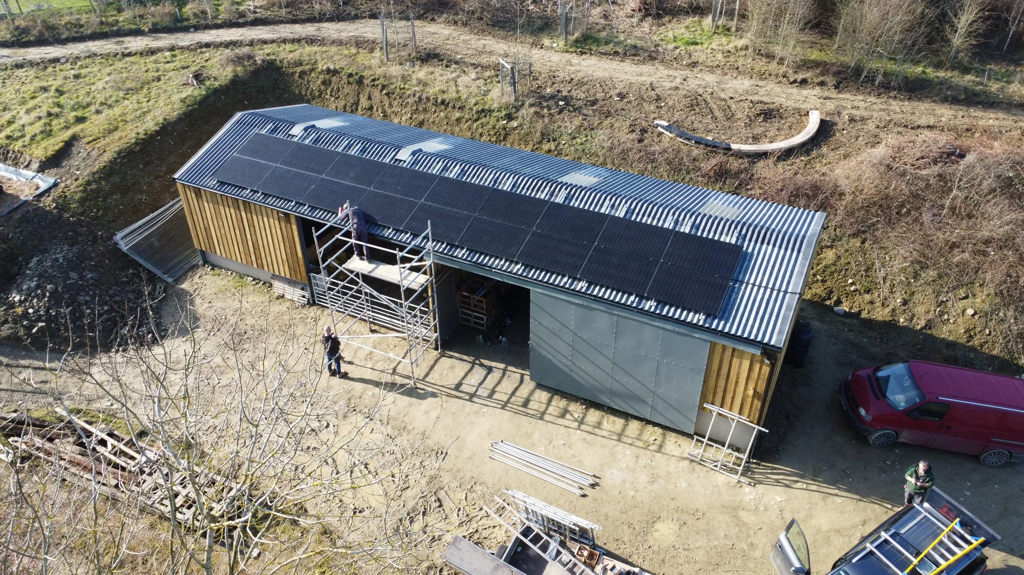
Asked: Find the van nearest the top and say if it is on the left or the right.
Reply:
right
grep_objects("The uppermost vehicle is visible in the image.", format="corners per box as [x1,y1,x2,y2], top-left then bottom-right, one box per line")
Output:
[837,360,1024,476]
